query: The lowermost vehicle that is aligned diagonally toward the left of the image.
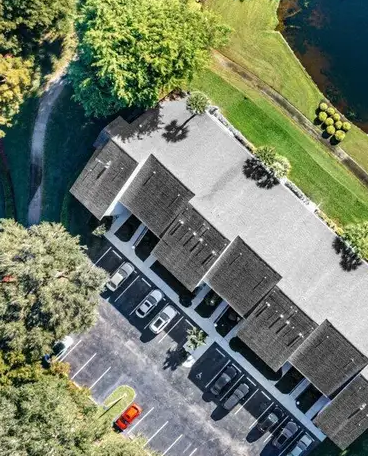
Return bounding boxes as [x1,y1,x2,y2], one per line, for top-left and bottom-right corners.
[114,401,144,431]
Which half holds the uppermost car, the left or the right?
left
